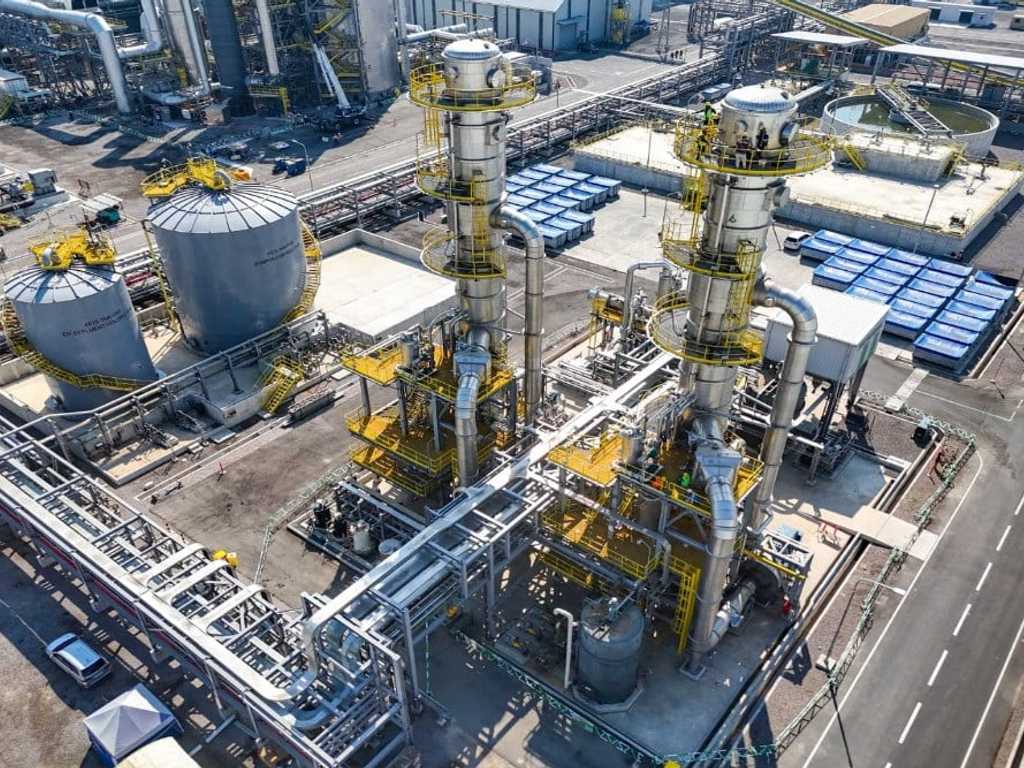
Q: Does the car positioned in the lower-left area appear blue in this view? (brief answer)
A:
Yes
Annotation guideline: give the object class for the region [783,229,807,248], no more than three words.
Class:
car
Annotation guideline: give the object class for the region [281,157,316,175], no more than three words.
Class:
vehicle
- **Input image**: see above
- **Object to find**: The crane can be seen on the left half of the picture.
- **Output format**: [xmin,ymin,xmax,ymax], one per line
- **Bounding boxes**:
[304,0,368,117]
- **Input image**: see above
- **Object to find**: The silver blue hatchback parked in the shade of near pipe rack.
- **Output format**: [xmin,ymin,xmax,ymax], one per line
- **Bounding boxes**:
[49,637,116,694]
